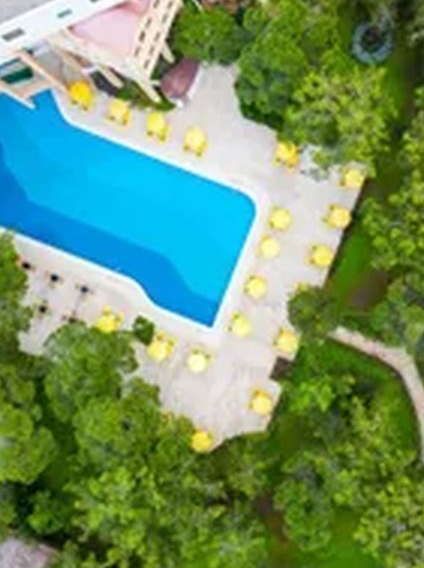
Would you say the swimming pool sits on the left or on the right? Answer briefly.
left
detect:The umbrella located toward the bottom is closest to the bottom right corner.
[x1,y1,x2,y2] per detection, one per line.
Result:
[249,389,273,412]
